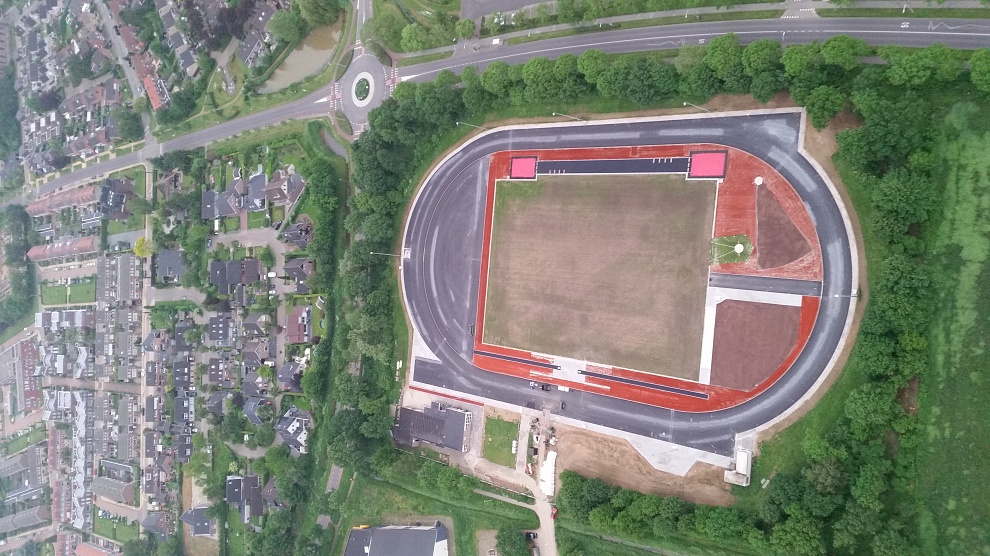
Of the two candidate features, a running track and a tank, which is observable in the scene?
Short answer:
running track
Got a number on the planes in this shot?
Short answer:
zero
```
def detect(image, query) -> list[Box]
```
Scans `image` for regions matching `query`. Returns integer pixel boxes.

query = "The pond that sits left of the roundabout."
[254,8,344,93]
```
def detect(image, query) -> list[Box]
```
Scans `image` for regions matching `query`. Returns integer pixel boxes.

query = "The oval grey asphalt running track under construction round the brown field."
[400,107,859,476]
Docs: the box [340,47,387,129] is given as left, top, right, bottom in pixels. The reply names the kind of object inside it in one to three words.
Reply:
roundabout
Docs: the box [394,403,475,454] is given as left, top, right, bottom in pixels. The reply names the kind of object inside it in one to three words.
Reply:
building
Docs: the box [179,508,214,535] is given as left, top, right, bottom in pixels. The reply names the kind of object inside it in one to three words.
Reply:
house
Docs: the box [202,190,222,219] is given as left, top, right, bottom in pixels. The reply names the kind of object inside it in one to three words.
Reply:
house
